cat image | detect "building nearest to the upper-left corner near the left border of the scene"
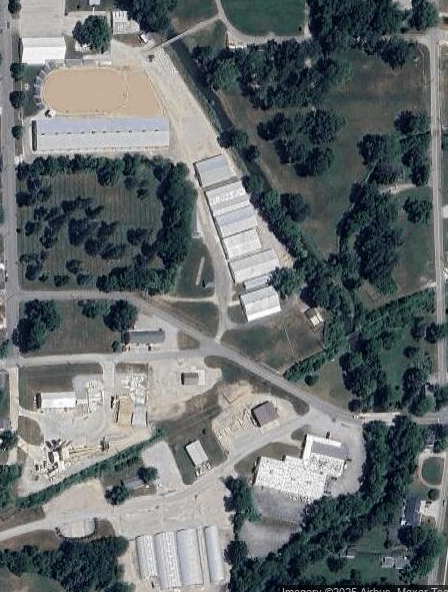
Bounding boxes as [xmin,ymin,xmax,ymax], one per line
[21,38,64,63]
